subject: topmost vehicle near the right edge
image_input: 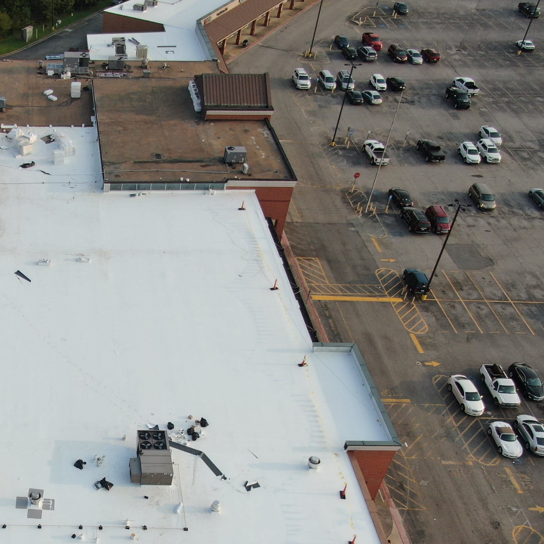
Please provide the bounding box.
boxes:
[517,3,541,19]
